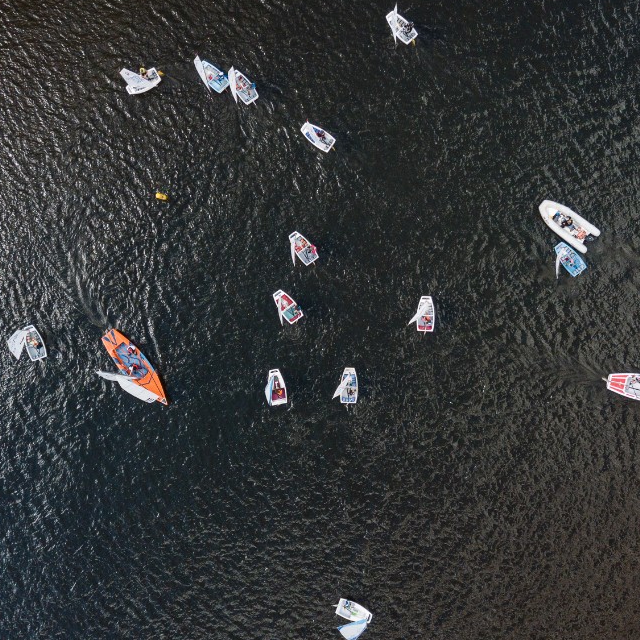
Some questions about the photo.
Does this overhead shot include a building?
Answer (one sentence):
No, the scene contains no building.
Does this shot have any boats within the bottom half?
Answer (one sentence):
Yes, a boat is visible within the bottom half.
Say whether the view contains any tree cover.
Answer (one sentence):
No, there's no tree cover in this view.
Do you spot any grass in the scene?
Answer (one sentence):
No, there is no grass in the image.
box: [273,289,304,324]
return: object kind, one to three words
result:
boat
